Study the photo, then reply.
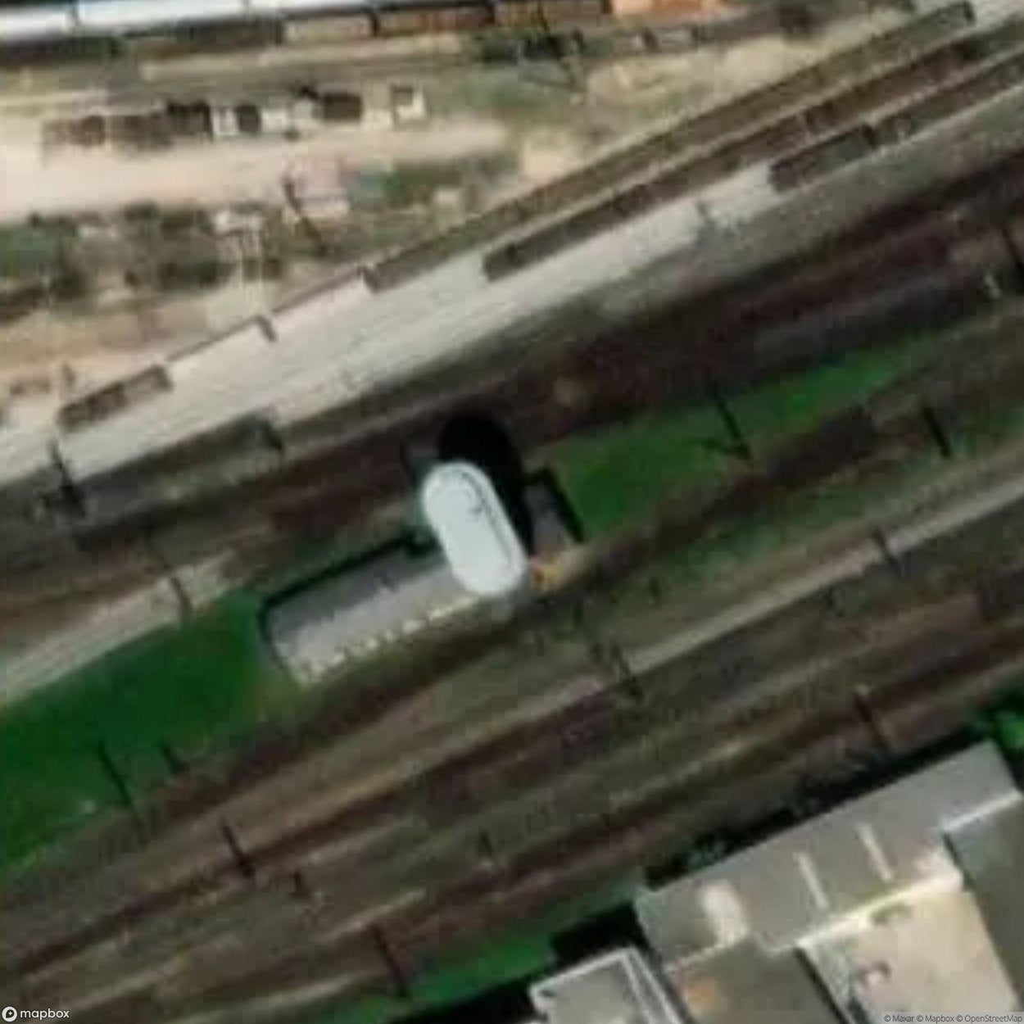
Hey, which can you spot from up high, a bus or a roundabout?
bus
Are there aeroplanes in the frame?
No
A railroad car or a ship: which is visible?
railroad car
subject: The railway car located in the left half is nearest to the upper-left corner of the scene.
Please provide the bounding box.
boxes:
[0,37,81,68]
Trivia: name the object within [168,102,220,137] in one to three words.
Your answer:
shed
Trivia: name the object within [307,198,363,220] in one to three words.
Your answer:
shed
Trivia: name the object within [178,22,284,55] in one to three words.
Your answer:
rail car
